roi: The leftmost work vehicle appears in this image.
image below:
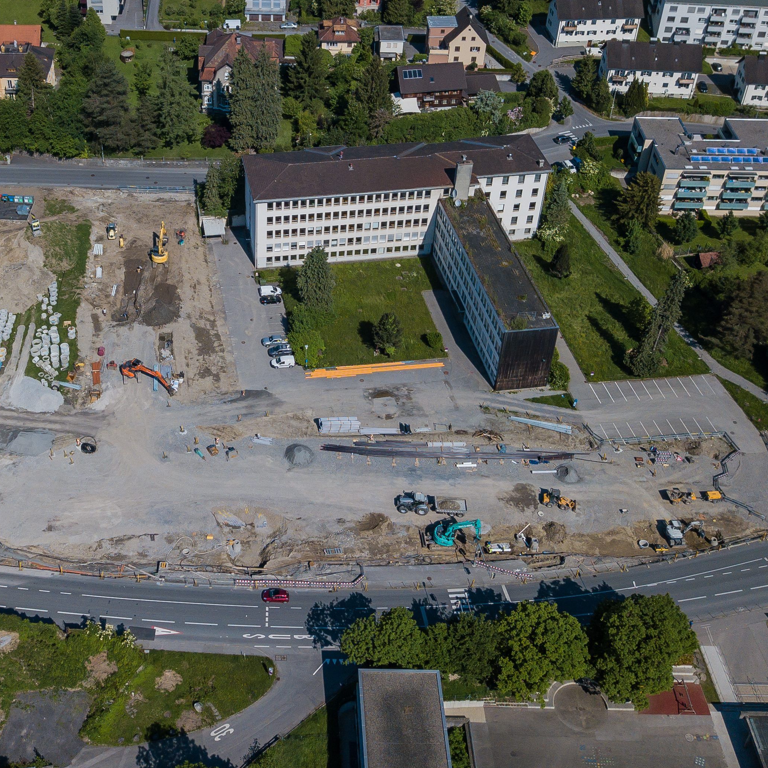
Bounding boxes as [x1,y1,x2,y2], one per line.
[105,223,118,243]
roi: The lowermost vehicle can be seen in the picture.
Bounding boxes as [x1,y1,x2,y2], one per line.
[261,588,290,604]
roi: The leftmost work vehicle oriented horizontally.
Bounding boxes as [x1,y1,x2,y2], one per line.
[120,356,180,392]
